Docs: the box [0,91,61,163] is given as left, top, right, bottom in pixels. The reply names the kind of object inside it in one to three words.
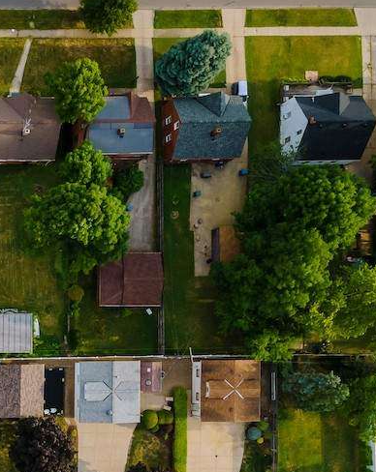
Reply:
house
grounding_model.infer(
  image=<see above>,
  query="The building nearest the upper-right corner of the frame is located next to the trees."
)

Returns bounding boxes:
[279,92,376,166]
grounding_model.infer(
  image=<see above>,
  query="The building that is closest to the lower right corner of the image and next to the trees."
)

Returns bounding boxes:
[193,361,261,422]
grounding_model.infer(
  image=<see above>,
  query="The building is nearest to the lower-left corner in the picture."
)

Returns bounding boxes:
[0,363,44,419]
